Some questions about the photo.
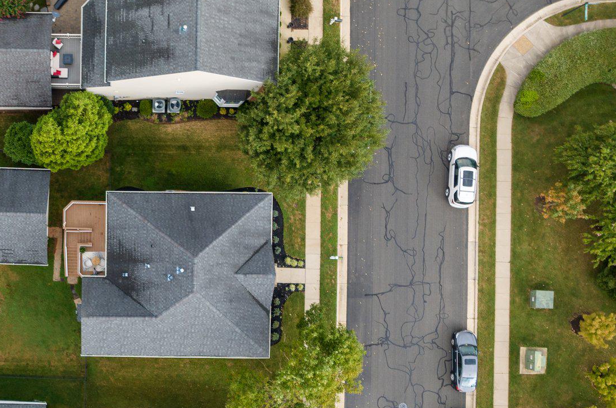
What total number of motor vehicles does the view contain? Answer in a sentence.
The number of motor vehicles here is 2.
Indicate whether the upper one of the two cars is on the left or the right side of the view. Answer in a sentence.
You can find the upper one of the two cars on the right side of the picture.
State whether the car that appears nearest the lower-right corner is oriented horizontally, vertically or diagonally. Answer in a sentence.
What the image shows is the car that appears nearest the lower-right corner lying vertically.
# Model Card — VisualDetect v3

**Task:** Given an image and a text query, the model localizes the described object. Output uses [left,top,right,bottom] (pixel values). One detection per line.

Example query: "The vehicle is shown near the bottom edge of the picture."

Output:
[449,330,482,393]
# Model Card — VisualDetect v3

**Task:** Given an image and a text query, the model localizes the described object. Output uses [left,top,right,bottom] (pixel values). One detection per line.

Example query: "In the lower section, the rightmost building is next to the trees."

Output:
[74,190,277,359]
